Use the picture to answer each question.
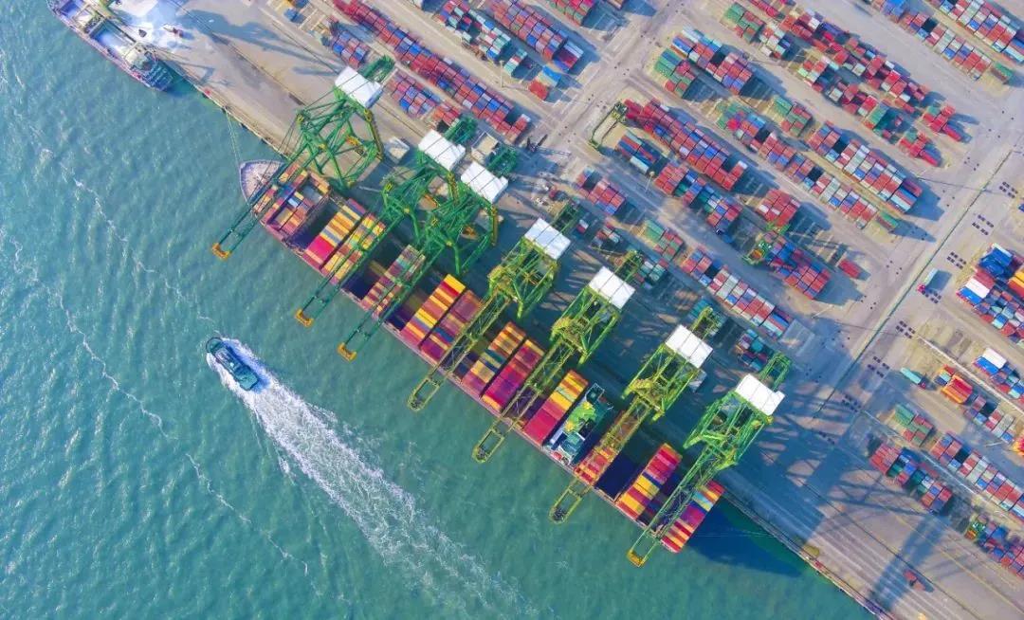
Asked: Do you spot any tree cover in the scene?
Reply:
No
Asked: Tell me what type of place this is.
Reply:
port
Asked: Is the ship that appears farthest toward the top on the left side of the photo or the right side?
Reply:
left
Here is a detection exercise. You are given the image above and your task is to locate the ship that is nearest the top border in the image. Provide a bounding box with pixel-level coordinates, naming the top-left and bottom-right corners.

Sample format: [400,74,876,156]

[35,0,208,96]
